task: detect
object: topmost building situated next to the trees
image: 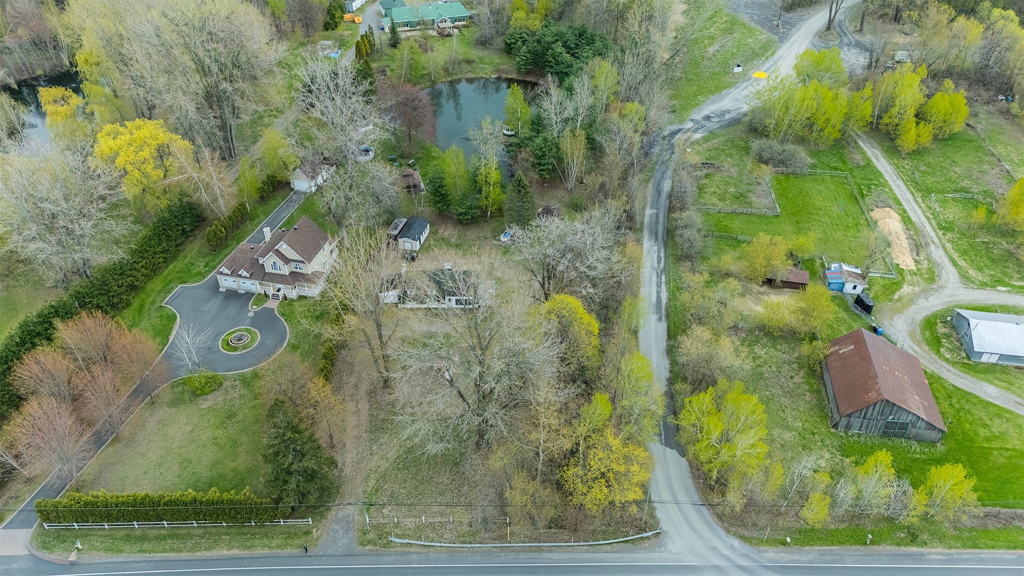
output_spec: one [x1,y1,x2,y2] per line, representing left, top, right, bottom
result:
[377,0,470,32]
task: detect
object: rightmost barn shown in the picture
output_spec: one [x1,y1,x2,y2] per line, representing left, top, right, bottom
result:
[949,302,1024,365]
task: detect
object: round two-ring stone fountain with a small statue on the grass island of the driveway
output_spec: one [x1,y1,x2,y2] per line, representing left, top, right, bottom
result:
[227,329,251,347]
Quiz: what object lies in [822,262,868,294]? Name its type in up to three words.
shed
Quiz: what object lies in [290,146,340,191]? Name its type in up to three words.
building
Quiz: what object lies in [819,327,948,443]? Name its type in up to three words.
barn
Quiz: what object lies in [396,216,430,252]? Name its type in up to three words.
shed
